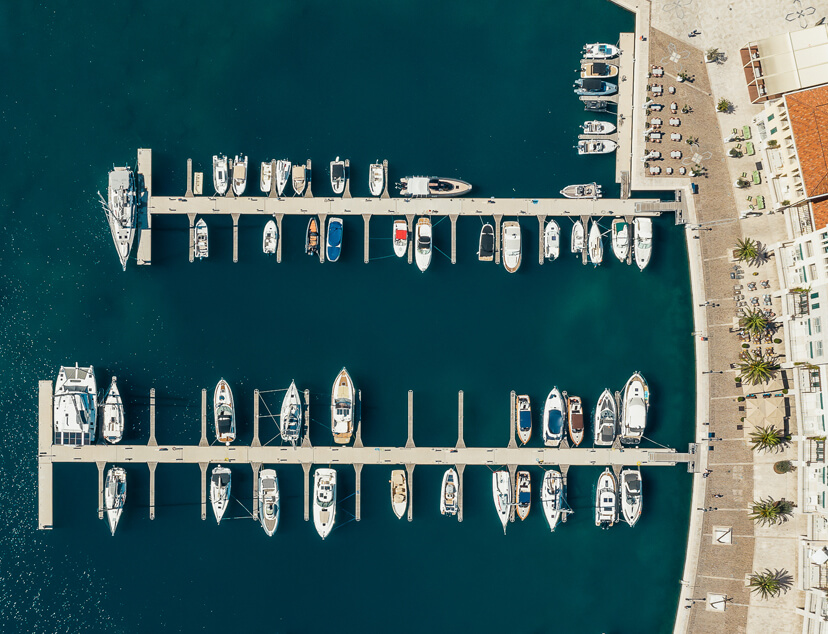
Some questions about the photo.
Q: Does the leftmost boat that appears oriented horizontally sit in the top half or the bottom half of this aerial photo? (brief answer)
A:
top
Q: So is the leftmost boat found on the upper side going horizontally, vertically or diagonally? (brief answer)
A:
vertically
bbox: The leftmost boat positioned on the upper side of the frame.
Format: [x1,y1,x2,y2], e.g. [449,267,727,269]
[97,163,137,271]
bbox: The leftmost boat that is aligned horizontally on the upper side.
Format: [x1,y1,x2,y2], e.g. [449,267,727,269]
[392,175,471,197]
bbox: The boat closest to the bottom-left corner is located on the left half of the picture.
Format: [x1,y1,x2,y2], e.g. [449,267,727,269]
[99,468,127,536]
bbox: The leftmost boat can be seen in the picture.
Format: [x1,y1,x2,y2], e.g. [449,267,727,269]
[52,363,97,446]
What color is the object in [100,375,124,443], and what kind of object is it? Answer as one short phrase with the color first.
white boat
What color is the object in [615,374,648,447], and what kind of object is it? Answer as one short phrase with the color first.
white boat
